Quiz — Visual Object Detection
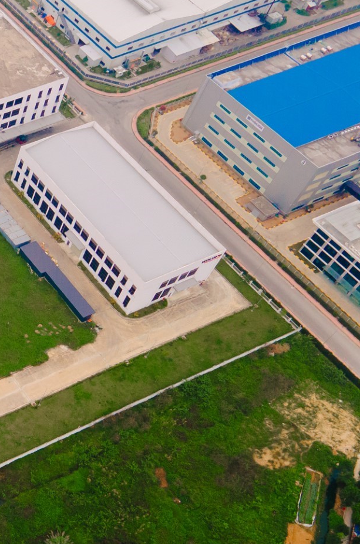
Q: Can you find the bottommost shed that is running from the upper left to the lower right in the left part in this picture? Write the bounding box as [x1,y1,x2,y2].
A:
[19,242,96,322]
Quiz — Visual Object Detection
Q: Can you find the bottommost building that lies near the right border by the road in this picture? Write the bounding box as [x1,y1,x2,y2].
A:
[296,201,360,309]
